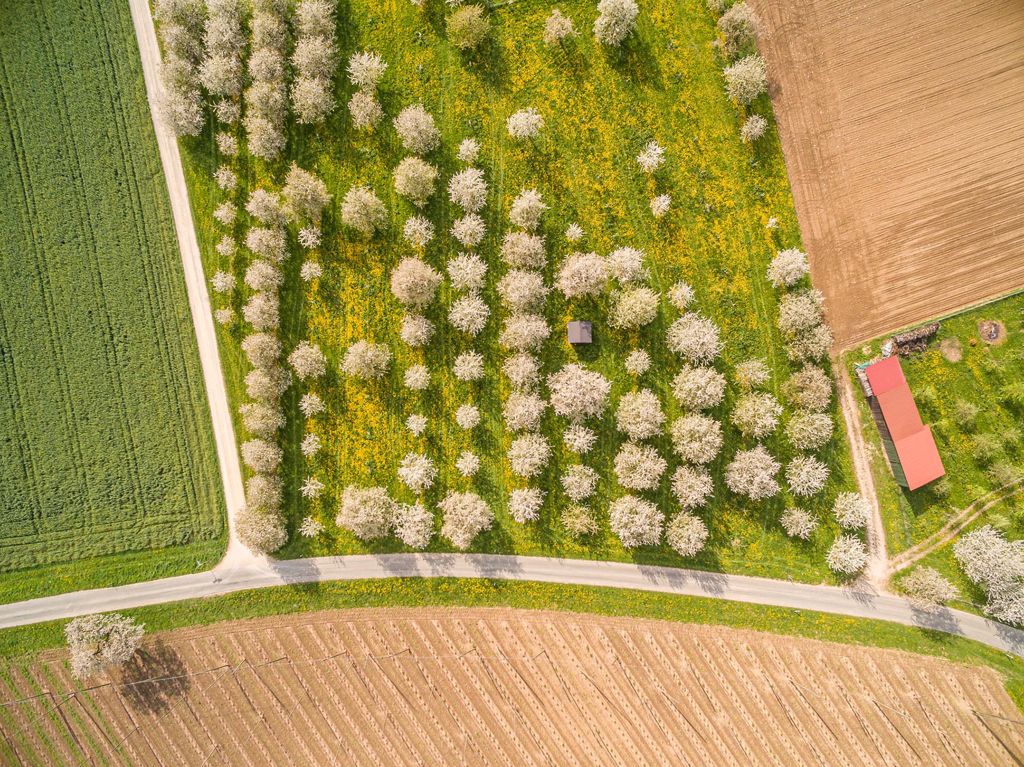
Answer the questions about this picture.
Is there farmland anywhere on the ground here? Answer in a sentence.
Yes, there is farmland in the image.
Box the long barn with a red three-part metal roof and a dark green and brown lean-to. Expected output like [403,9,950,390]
[855,355,945,491]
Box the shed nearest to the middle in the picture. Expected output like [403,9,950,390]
[568,321,592,343]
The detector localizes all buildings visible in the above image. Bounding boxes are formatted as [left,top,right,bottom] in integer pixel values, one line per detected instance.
[568,321,592,343]
[855,355,945,491]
